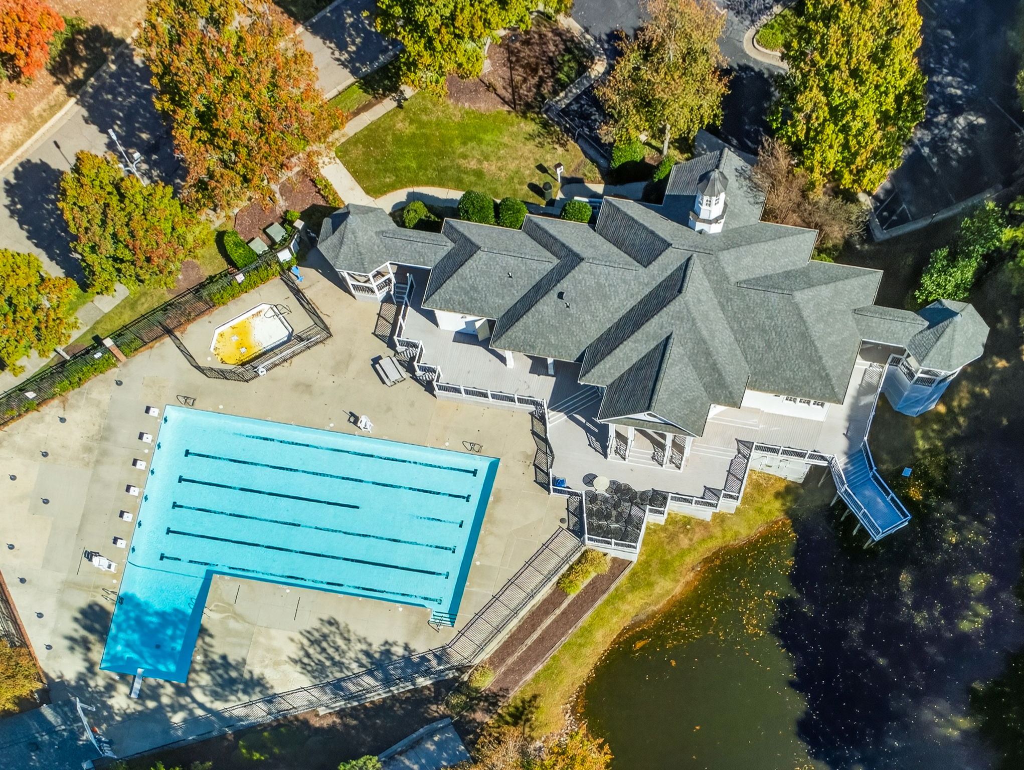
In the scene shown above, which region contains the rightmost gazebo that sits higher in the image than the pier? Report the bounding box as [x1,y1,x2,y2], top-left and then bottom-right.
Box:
[881,299,990,419]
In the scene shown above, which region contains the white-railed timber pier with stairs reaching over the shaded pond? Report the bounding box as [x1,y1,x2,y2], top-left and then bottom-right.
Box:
[828,437,912,552]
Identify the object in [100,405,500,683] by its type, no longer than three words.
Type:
swimming pool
